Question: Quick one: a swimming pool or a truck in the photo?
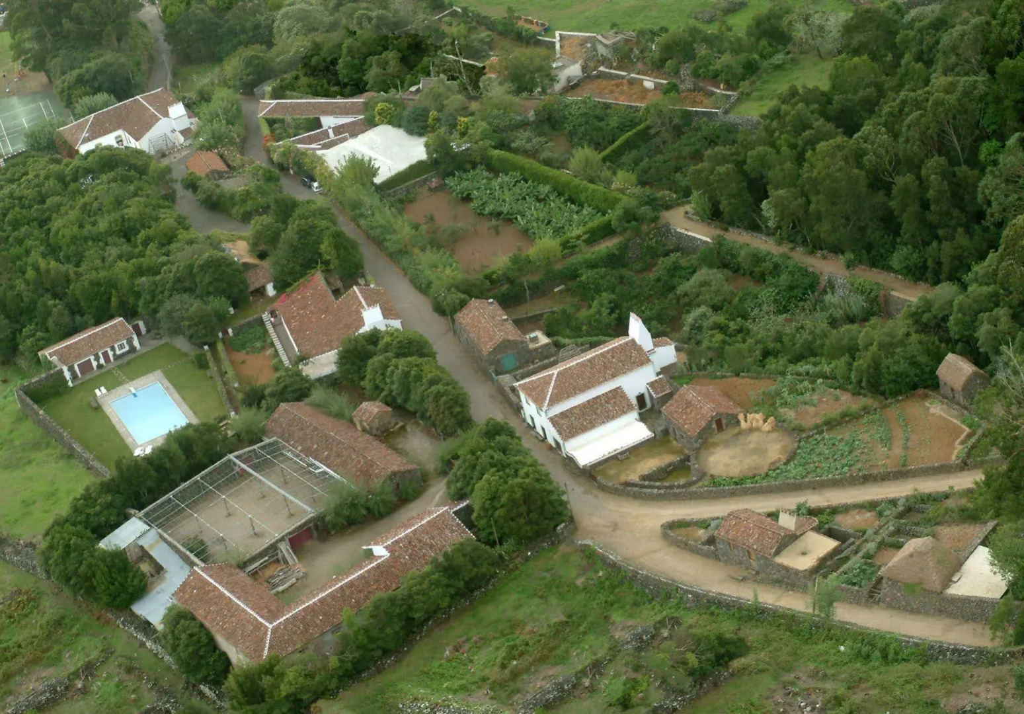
swimming pool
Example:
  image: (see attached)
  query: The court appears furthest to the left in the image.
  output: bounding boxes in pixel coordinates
[0,90,69,160]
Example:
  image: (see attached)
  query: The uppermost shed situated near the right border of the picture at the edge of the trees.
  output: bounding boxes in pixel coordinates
[936,354,989,408]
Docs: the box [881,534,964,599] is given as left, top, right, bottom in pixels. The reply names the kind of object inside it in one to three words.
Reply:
barn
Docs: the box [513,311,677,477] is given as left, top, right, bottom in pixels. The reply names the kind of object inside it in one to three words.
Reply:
house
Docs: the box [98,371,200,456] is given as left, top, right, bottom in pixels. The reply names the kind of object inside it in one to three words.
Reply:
swimming pool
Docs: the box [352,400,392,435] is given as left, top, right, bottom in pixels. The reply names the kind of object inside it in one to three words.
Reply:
shed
